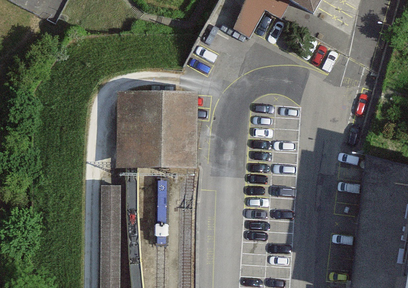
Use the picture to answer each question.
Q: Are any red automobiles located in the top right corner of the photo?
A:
Yes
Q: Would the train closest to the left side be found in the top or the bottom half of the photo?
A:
bottom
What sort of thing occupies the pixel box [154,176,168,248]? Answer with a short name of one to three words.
rail car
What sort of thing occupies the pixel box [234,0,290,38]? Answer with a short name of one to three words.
building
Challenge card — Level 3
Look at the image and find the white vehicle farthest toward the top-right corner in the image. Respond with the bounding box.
[322,50,338,73]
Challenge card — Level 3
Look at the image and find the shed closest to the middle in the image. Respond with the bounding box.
[116,91,198,168]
